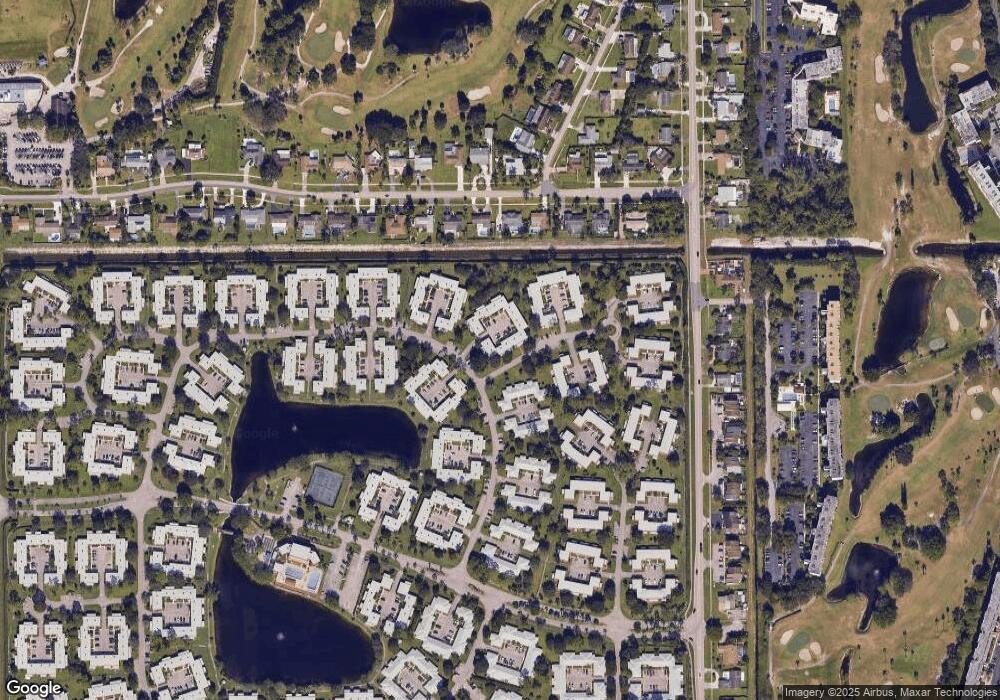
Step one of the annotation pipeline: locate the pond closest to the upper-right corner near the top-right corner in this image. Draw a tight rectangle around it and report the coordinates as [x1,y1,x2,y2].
[901,0,972,132]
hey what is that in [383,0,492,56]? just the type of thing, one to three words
pond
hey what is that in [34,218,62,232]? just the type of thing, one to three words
house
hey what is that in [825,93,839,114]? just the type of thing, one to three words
swimming pool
